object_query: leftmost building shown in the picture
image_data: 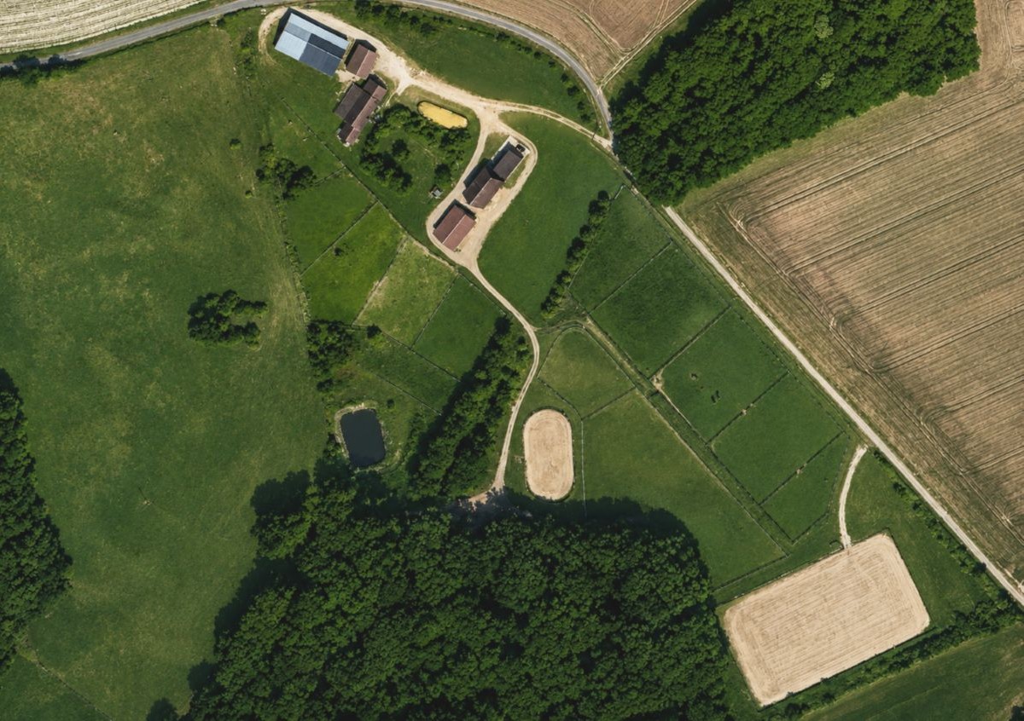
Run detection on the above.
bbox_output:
[274,12,349,75]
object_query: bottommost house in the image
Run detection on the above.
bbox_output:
[434,205,475,250]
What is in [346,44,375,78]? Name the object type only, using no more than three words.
house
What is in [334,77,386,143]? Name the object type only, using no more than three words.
house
